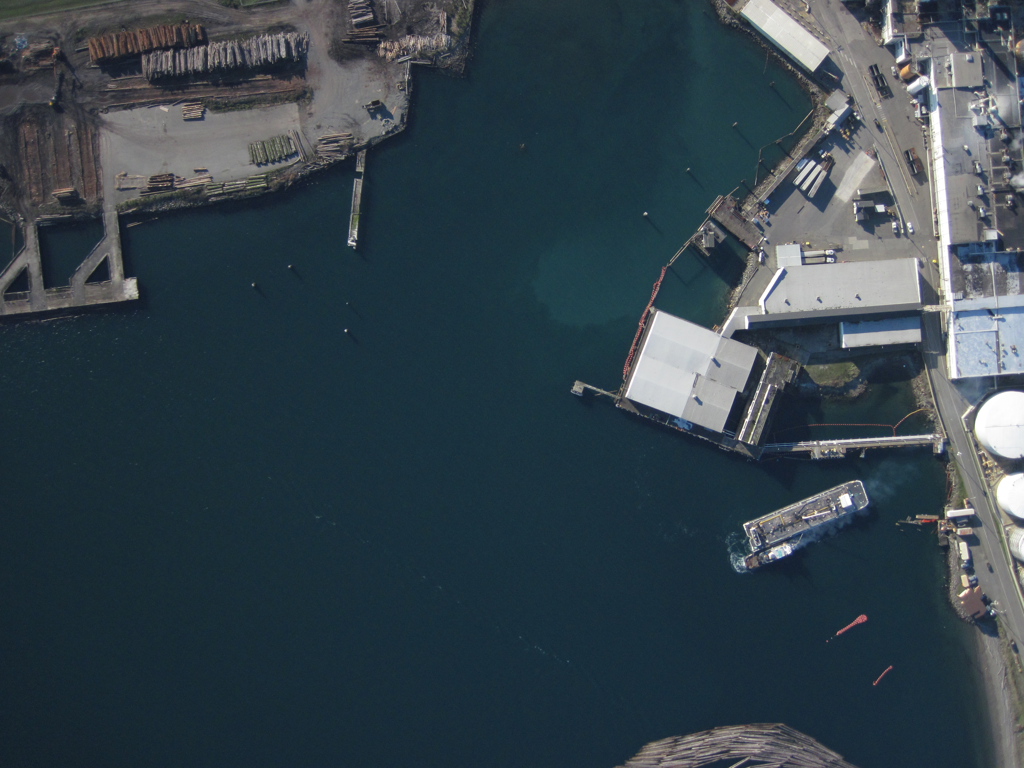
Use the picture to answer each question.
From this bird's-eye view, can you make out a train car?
Yes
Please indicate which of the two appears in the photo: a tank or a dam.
tank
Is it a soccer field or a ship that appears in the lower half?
ship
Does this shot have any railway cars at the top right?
Yes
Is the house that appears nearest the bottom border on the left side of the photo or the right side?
right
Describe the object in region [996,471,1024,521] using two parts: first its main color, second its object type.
white storage tank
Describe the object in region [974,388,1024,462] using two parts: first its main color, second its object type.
white storage tank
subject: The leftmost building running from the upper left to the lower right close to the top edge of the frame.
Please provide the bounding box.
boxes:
[737,0,829,75]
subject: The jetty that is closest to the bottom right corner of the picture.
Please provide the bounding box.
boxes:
[935,507,953,546]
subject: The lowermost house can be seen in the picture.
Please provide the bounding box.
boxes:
[955,585,986,618]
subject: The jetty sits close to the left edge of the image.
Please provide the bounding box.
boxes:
[0,212,139,315]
